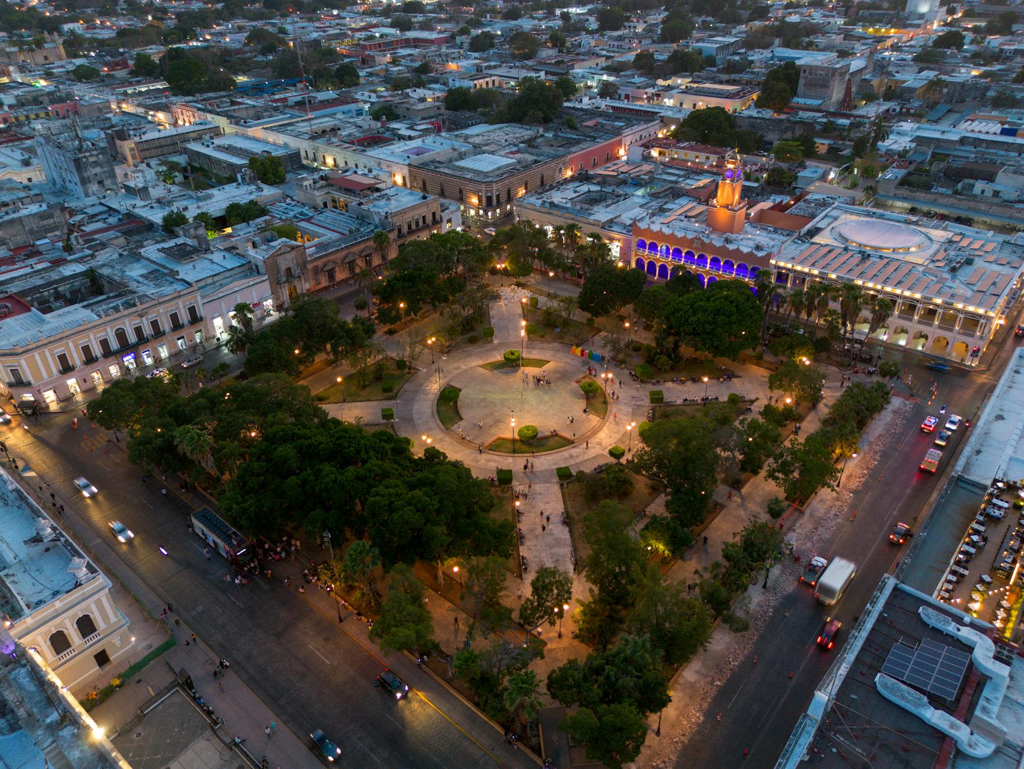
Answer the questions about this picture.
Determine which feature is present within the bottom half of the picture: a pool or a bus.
bus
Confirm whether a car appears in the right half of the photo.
Yes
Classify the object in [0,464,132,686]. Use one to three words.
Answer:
building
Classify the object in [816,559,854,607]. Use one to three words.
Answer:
truck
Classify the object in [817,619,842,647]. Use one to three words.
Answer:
car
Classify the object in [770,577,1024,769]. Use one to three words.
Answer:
building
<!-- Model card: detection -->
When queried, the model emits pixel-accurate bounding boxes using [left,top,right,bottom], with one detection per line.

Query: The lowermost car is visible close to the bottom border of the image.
[307,725,344,763]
